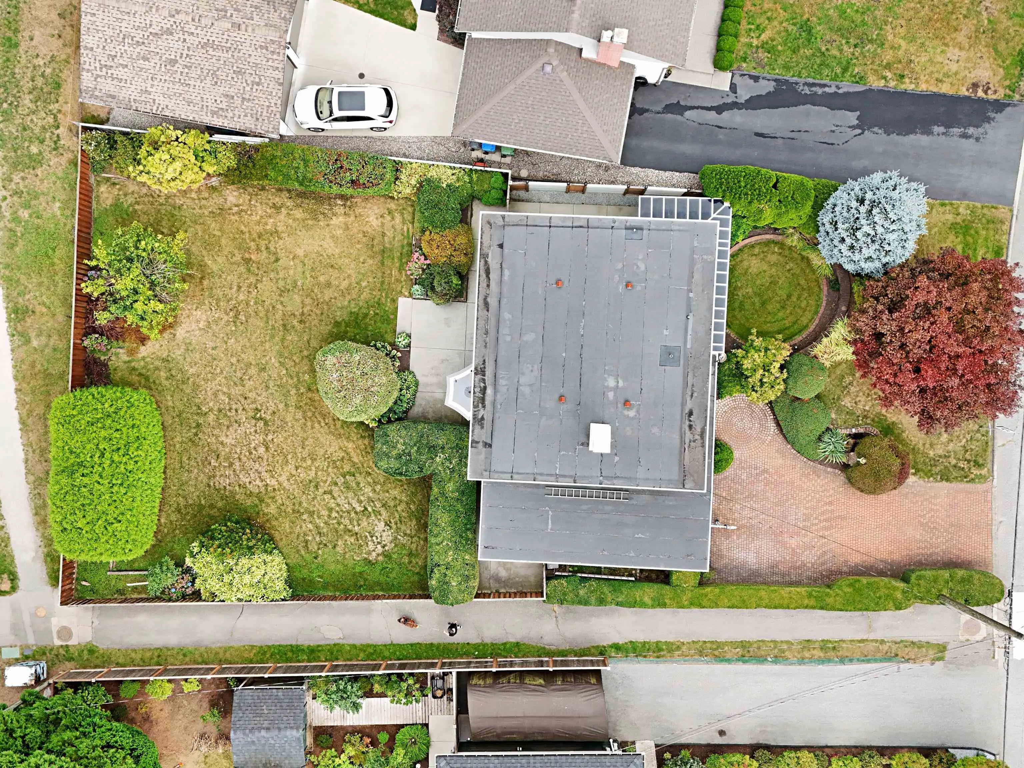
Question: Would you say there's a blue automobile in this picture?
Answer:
No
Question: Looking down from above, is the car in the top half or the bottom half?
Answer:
top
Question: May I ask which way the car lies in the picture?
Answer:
from left to right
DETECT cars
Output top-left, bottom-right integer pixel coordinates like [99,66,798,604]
[292,80,399,132]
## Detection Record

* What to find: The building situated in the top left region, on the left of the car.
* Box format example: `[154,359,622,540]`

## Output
[79,0,309,147]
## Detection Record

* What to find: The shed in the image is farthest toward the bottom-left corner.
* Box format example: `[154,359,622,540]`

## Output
[230,677,312,768]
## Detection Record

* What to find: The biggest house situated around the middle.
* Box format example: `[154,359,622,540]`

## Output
[466,211,720,573]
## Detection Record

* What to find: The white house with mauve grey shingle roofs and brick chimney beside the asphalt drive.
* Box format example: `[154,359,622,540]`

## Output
[448,0,699,169]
